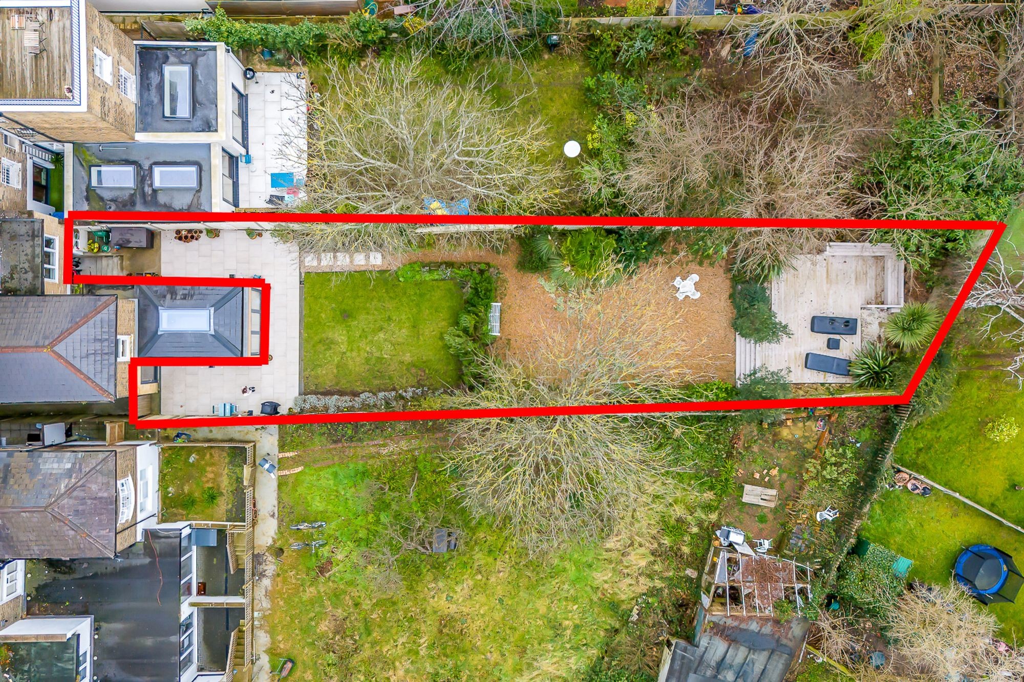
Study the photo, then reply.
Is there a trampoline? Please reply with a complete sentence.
Yes, a trampoline appears in the view.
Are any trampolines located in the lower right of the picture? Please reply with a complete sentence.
Yes, I can see a trampoline in the lower right of the picture.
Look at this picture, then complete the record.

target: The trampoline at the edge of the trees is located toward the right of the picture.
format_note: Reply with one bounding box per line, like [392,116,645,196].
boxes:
[951,542,1023,602]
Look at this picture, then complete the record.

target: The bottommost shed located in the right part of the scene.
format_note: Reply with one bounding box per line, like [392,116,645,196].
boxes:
[660,610,814,682]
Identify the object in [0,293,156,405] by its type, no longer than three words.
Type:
house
